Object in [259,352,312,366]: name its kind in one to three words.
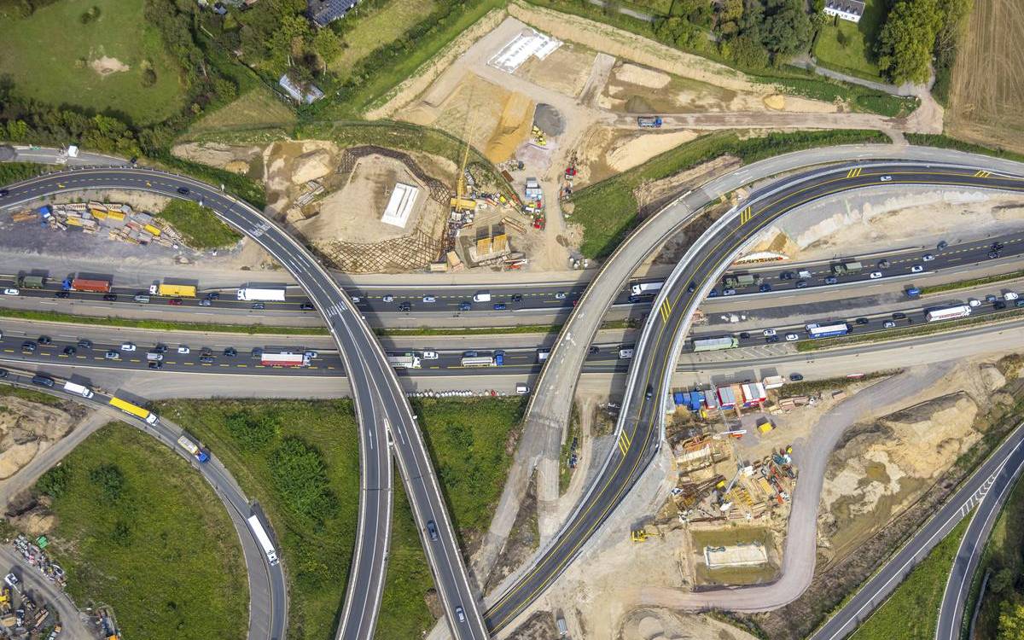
vehicle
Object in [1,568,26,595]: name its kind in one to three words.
work vehicle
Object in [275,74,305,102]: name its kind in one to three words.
shed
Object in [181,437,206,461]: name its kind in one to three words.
truck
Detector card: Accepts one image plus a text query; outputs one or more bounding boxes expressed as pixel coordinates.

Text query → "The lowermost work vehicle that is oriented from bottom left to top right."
[0,586,20,609]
